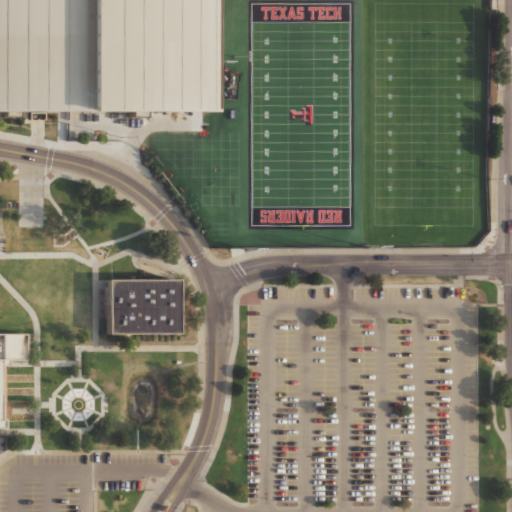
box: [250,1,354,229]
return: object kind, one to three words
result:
sports field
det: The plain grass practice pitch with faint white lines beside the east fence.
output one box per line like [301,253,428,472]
[362,0,488,247]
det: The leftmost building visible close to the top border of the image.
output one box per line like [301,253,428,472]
[0,0,100,113]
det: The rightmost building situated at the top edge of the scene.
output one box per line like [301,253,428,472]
[94,0,222,113]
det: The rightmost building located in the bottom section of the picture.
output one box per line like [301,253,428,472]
[108,280,184,334]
